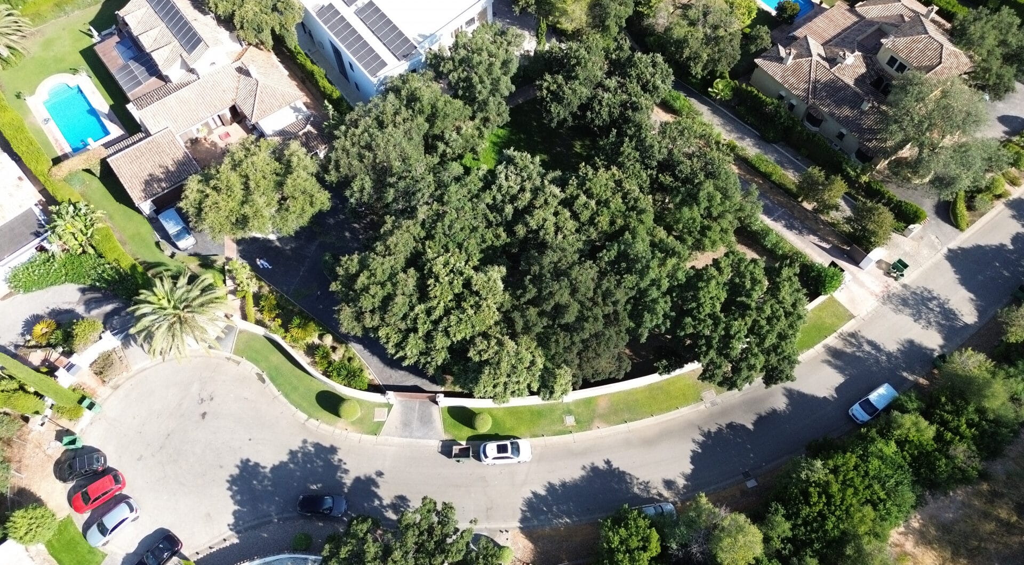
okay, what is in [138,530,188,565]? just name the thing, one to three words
car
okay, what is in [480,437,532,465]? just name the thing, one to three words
car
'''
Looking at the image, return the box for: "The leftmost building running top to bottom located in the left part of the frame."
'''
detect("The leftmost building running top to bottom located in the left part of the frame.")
[0,150,59,280]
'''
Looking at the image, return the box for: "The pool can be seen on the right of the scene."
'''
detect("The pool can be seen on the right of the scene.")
[759,0,816,21]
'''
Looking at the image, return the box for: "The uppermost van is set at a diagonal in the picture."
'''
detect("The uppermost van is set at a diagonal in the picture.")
[152,205,198,253]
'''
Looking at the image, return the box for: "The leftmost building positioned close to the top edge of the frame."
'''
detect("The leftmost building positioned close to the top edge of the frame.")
[94,0,332,219]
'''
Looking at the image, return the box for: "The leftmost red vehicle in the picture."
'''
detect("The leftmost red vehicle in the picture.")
[72,469,131,513]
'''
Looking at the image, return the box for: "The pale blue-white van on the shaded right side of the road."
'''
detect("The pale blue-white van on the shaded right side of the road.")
[845,381,904,423]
